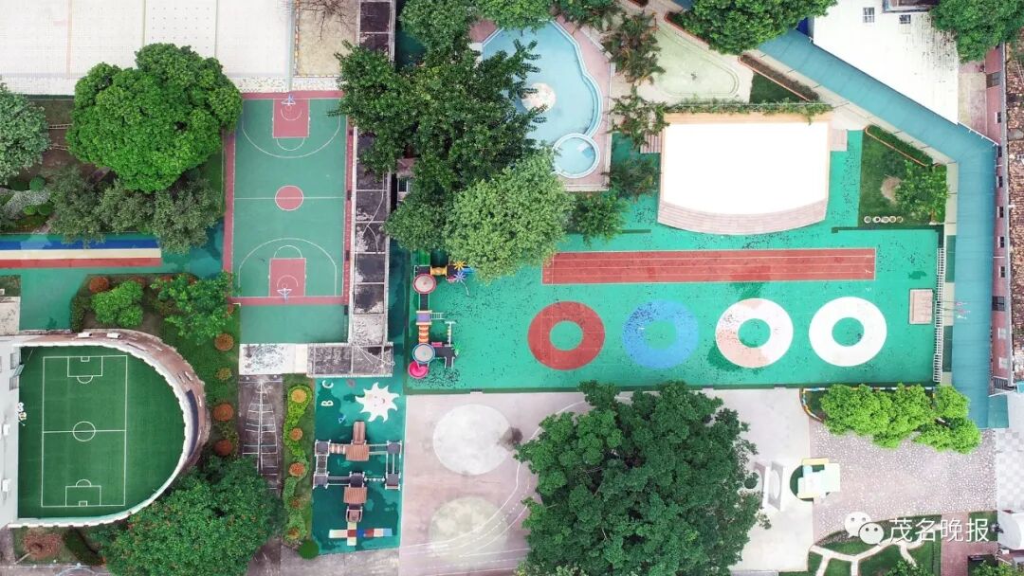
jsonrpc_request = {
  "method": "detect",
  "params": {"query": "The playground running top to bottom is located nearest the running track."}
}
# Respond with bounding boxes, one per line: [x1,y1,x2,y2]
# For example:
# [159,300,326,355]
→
[409,251,474,380]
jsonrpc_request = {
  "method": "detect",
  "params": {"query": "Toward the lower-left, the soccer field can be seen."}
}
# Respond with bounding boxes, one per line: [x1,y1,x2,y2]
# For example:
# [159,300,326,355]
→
[41,356,127,507]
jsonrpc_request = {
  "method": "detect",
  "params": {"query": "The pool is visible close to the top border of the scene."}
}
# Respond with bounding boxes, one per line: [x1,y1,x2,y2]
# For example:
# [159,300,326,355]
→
[480,18,603,164]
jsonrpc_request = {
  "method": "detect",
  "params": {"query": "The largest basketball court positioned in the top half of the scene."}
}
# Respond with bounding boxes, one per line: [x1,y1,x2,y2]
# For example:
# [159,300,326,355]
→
[222,92,353,344]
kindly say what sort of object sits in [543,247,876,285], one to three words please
running track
